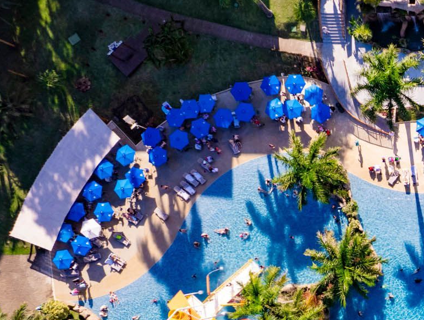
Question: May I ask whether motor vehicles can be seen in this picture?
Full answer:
No, this view has no motor vehicle in it.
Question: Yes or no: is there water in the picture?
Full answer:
Yes, some water is visible.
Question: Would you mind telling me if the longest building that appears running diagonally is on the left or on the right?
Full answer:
The longest building that appears running diagonally appears in the left half of the scene.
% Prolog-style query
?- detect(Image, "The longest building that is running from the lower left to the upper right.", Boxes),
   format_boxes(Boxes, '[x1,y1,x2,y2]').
[8,108,125,250]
